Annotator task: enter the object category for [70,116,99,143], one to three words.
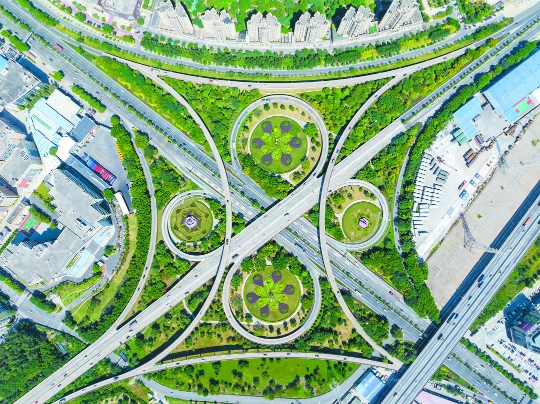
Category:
shed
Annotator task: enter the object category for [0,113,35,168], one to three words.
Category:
building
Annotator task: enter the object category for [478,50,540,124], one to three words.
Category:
building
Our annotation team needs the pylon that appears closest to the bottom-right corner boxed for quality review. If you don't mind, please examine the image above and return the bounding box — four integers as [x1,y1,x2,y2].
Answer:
[462,239,498,258]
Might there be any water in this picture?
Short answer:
No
